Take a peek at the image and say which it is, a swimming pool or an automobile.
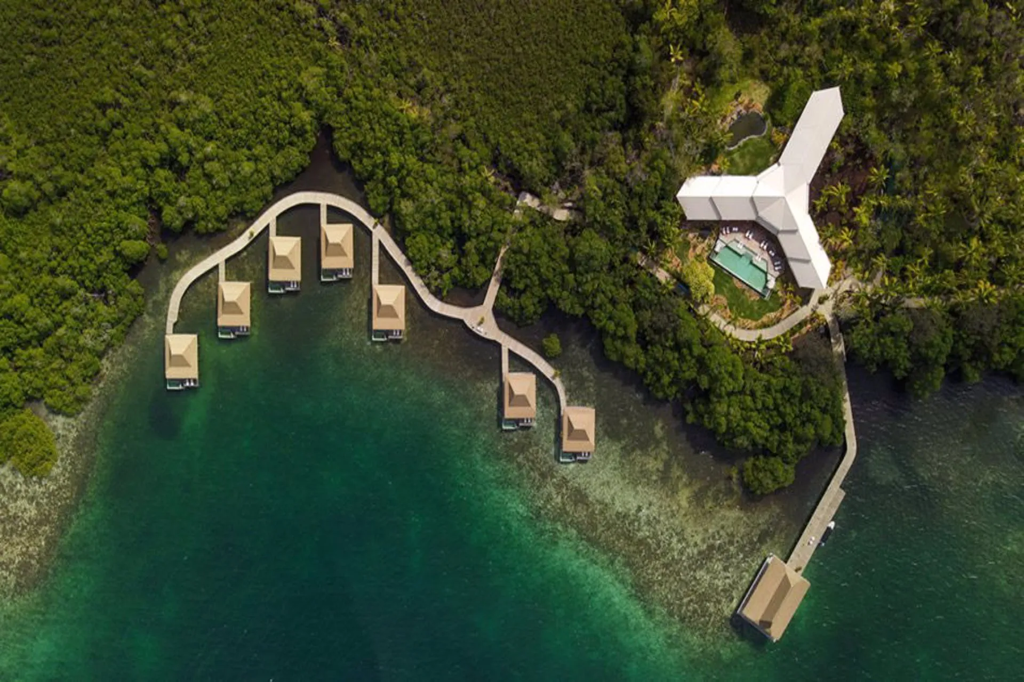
swimming pool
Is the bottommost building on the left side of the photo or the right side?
right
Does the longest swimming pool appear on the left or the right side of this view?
right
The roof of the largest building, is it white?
Yes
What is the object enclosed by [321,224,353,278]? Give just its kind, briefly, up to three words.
house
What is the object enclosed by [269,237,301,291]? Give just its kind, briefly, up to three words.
house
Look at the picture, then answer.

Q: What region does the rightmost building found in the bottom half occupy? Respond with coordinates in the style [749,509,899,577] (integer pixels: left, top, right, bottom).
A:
[738,552,811,640]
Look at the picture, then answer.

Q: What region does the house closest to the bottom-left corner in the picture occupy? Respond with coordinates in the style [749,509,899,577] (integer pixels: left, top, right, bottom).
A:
[165,335,199,387]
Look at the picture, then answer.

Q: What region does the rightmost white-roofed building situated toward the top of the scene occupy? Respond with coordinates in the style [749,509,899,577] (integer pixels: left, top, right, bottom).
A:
[676,86,844,289]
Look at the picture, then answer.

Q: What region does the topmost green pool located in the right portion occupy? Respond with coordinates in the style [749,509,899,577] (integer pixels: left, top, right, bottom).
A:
[709,240,768,298]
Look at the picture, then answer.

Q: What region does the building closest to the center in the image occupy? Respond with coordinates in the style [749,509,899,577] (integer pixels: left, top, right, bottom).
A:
[502,373,536,425]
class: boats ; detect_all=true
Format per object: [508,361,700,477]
[819,524,834,545]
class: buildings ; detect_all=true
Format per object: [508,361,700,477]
[560,407,595,459]
[269,237,301,291]
[321,224,353,278]
[738,552,811,640]
[373,285,405,338]
[218,282,251,335]
[502,373,536,425]
[676,86,844,289]
[165,335,199,387]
